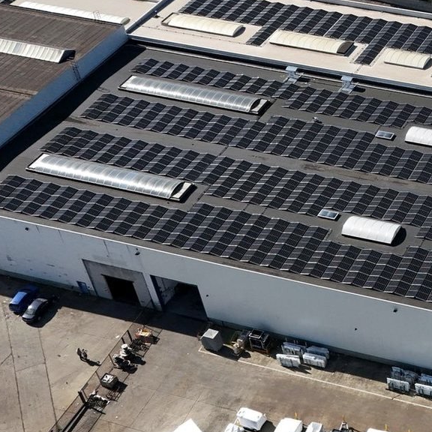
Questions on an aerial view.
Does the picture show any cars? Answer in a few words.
Yes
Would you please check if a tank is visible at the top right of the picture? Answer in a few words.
No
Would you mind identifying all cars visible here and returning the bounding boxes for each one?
[1,282,41,315]
[15,293,55,327]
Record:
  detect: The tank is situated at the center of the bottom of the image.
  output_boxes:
[199,328,227,357]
